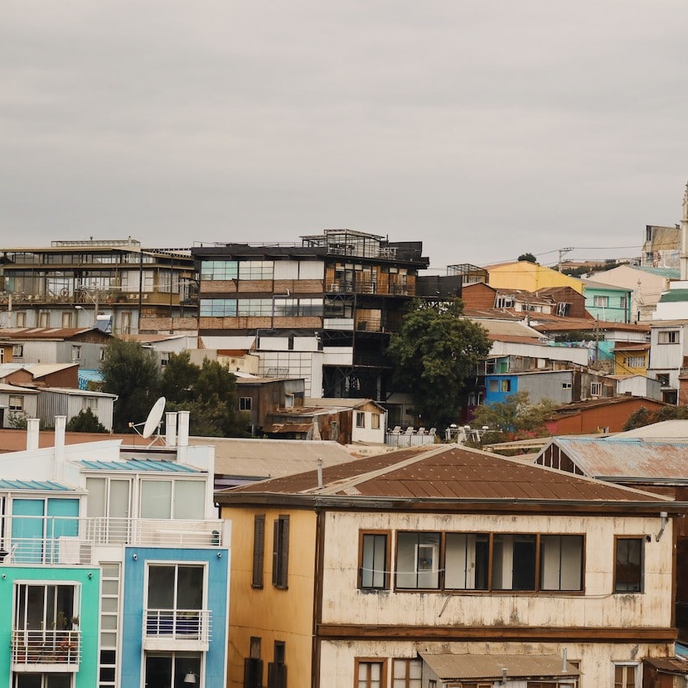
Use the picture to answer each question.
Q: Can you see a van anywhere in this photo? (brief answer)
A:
No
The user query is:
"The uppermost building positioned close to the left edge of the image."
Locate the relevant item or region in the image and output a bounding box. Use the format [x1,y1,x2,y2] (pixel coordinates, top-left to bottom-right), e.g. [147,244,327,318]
[0,232,209,342]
